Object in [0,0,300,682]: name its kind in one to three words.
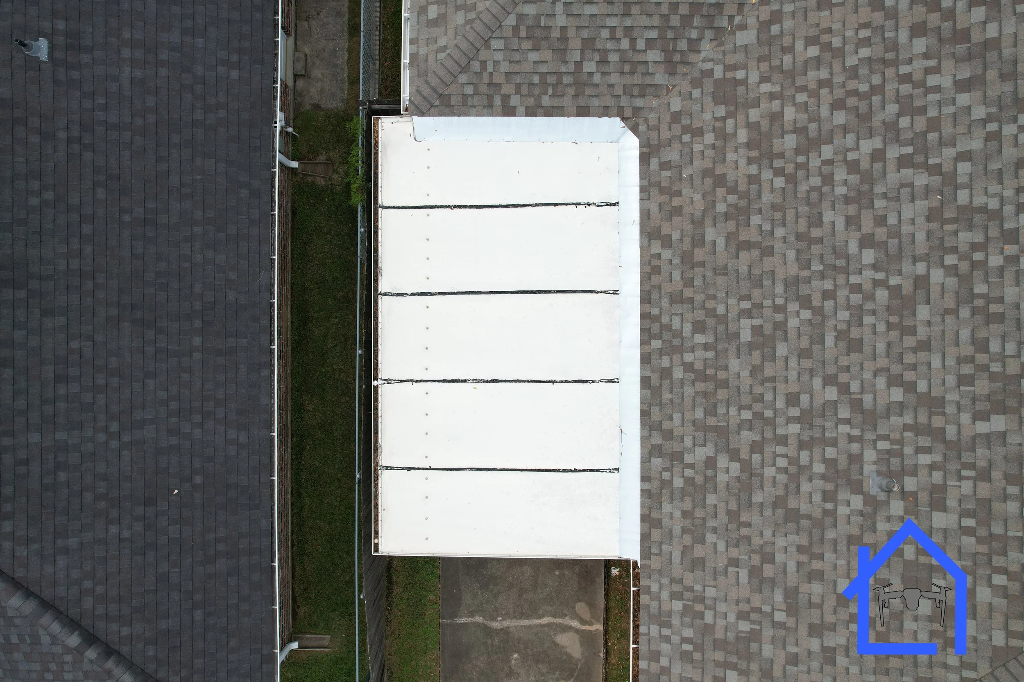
house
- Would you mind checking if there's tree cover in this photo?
No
